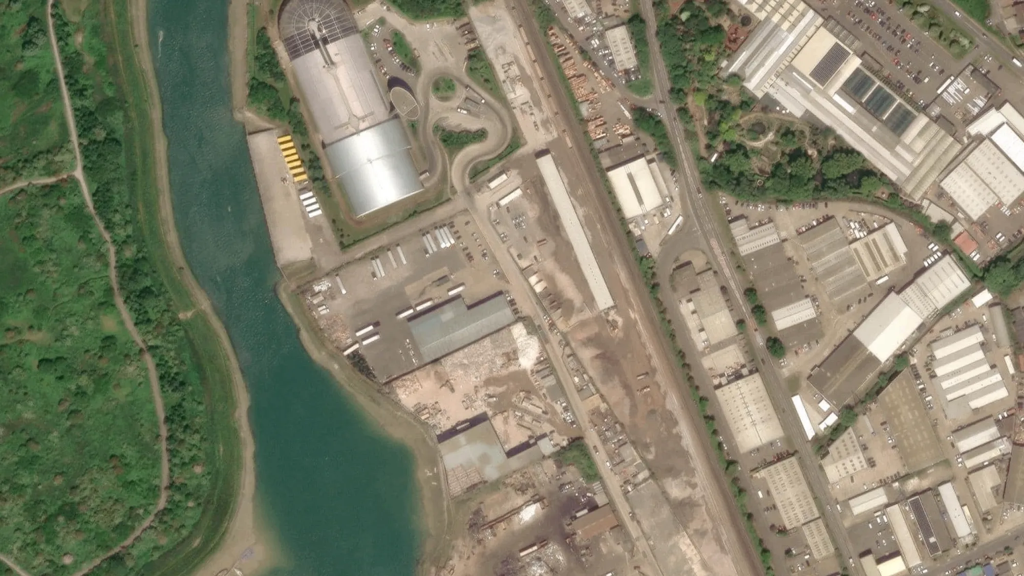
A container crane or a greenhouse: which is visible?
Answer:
greenhouse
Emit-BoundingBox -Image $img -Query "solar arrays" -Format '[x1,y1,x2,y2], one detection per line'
[807,41,848,83]
[910,500,940,554]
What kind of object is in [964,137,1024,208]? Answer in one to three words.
shed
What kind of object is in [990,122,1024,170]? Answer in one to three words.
shed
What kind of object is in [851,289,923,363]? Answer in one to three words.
building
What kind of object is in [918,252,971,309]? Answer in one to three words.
building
